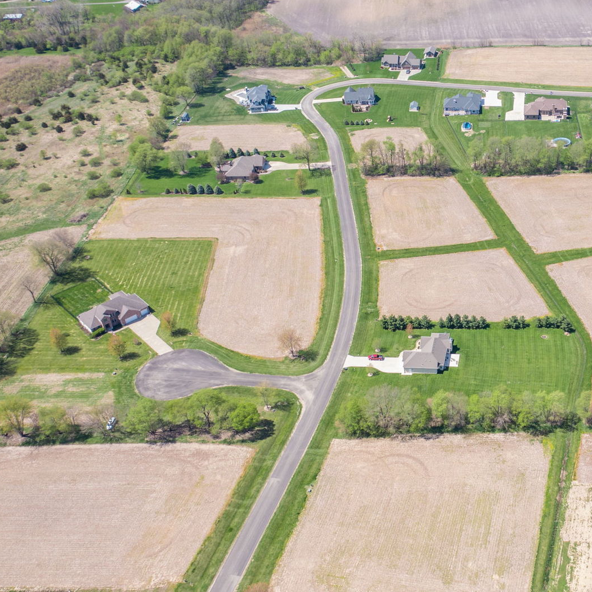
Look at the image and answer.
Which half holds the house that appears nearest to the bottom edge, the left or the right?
right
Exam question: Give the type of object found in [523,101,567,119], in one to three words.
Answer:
house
